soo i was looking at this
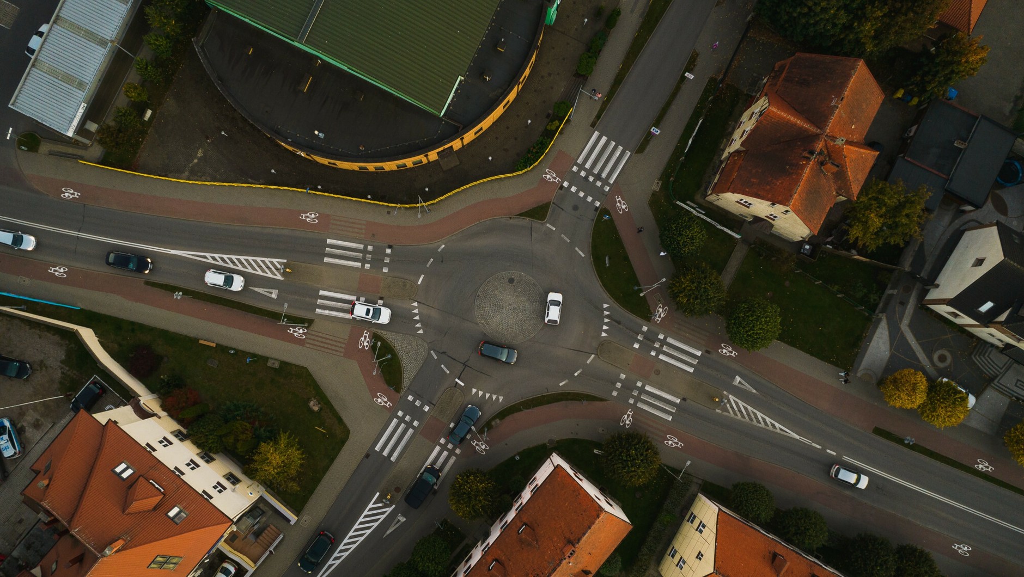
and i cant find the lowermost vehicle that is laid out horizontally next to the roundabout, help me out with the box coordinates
[477,341,518,364]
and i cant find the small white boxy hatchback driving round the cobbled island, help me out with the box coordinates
[545,292,563,325]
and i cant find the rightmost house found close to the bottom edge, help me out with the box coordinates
[659,494,844,577]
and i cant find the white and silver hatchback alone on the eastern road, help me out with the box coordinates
[828,463,868,489]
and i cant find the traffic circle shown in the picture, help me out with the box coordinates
[475,272,546,343]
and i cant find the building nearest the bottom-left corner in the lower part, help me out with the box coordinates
[21,403,259,577]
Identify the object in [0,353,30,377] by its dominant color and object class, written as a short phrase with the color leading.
black car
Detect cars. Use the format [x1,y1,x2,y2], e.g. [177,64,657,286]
[477,341,518,364]
[828,463,868,489]
[106,252,155,274]
[0,230,38,251]
[350,301,393,323]
[448,403,480,445]
[203,270,247,291]
[211,555,238,577]
[70,377,107,413]
[405,462,440,512]
[0,353,30,377]
[545,292,563,325]
[301,529,333,573]
[0,416,24,461]
[867,135,888,171]
[22,21,46,58]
